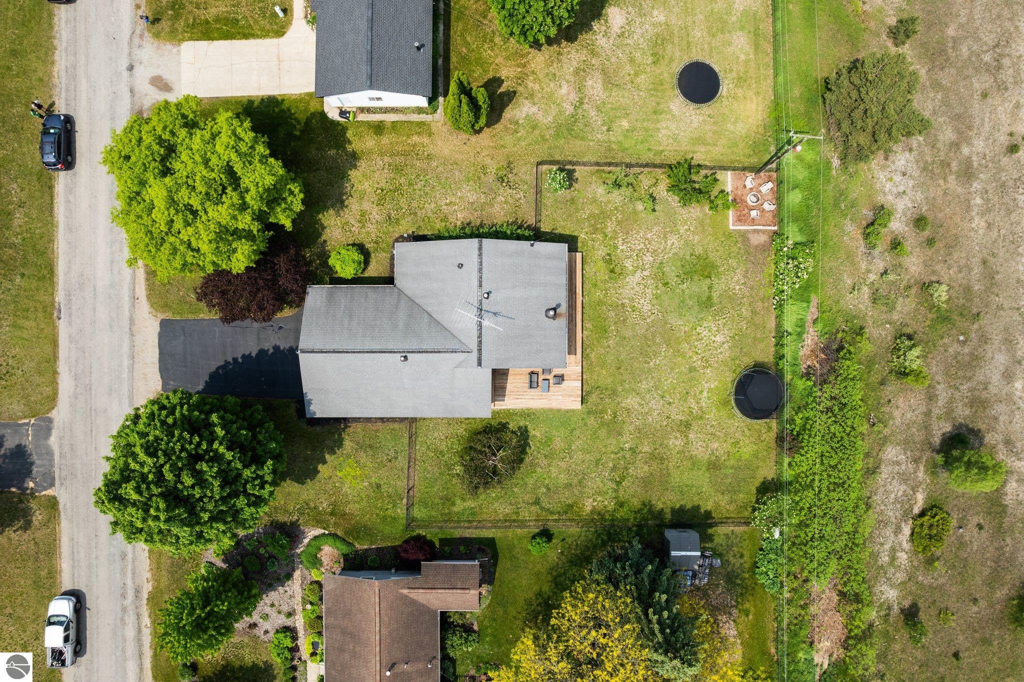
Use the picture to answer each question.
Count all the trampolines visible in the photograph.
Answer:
2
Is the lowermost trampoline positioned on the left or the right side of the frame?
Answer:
right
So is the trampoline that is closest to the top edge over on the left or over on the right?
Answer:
right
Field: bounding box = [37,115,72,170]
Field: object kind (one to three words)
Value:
car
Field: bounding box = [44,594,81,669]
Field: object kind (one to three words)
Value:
truck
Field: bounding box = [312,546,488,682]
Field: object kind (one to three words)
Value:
house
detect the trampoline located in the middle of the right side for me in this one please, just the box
[730,368,793,420]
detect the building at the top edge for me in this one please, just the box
[310,0,433,108]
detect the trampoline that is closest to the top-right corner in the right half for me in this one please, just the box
[673,59,723,110]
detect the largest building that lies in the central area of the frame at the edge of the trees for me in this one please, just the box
[298,238,568,419]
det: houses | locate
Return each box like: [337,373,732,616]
[312,546,488,682]
[310,0,433,108]
[298,238,568,419]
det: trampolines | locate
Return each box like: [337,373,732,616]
[730,368,793,420]
[673,59,723,110]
